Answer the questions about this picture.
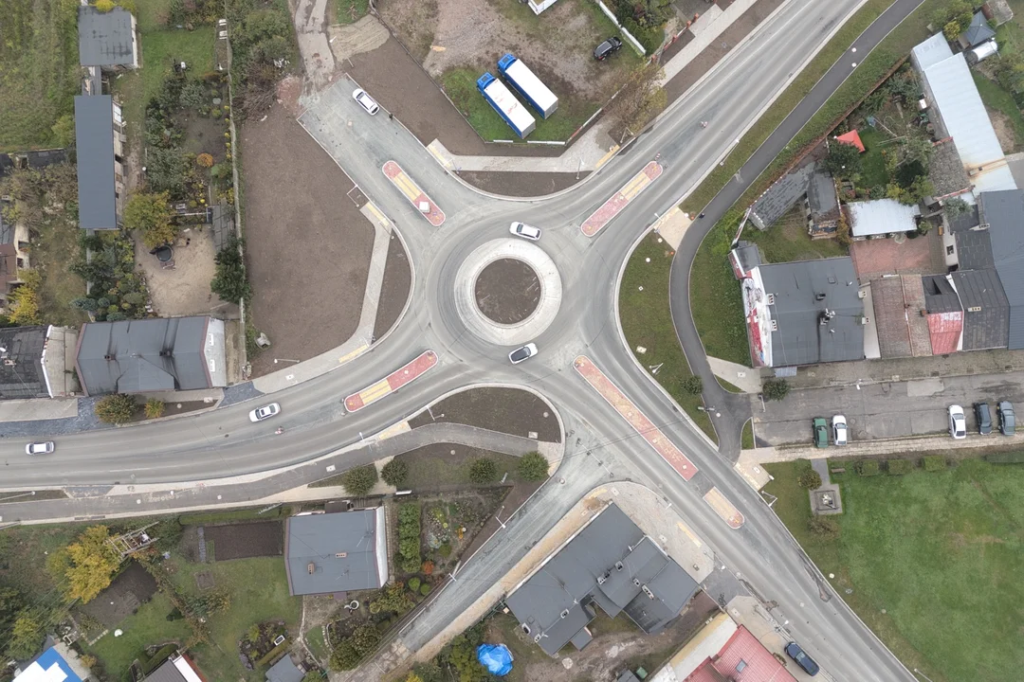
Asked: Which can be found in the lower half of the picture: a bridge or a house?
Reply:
house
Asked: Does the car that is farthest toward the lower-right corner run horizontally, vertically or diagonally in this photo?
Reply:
diagonally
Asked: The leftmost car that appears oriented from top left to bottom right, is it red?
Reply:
No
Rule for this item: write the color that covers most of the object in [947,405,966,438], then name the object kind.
white car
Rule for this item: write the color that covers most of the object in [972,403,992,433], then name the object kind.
gray car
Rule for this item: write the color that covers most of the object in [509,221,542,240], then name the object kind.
white car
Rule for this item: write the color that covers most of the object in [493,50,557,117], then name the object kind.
white truck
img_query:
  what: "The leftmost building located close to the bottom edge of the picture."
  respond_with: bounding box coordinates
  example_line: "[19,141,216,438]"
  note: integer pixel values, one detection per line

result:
[8,628,99,682]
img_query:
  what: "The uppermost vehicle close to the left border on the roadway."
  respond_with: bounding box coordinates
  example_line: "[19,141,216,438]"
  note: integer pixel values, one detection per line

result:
[25,441,57,456]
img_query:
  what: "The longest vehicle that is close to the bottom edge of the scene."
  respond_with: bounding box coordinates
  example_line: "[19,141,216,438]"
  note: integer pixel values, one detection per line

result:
[786,641,818,675]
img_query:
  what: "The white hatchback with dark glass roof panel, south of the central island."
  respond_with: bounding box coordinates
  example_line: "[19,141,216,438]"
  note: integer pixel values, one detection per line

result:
[508,343,539,364]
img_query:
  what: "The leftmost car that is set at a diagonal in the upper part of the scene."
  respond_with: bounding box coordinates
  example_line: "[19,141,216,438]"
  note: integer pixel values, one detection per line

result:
[351,87,382,117]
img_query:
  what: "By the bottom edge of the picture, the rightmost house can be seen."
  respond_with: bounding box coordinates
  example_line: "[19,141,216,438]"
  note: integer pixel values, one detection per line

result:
[635,604,798,682]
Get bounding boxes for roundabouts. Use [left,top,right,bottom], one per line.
[453,236,563,346]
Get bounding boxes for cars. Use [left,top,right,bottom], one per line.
[351,87,382,117]
[508,343,539,364]
[509,221,542,240]
[972,403,992,433]
[249,402,282,422]
[786,641,818,675]
[996,401,1016,435]
[947,405,966,438]
[831,415,849,445]
[811,417,828,448]
[25,441,57,456]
